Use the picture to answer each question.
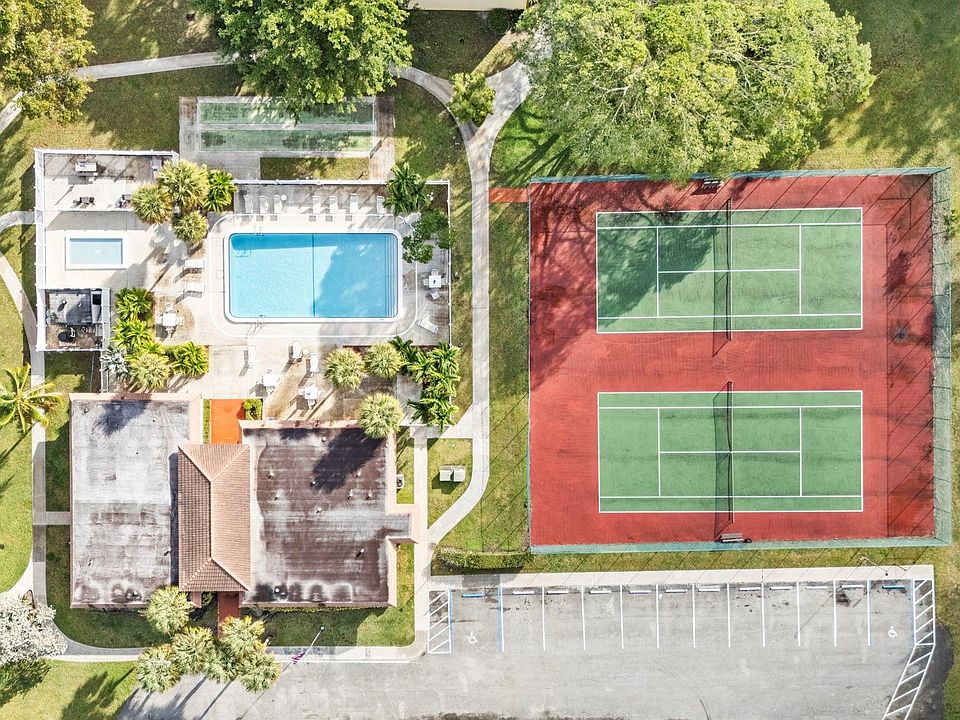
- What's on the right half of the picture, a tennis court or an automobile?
tennis court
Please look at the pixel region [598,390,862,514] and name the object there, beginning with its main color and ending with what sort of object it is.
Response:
green tennis court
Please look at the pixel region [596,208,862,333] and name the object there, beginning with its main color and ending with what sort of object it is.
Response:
green tennis court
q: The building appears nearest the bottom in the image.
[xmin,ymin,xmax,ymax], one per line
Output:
[69,393,419,609]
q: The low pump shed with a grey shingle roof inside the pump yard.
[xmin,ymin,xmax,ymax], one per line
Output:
[48,292,94,325]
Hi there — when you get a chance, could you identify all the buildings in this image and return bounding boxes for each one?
[411,0,526,16]
[69,393,419,609]
[48,292,94,325]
